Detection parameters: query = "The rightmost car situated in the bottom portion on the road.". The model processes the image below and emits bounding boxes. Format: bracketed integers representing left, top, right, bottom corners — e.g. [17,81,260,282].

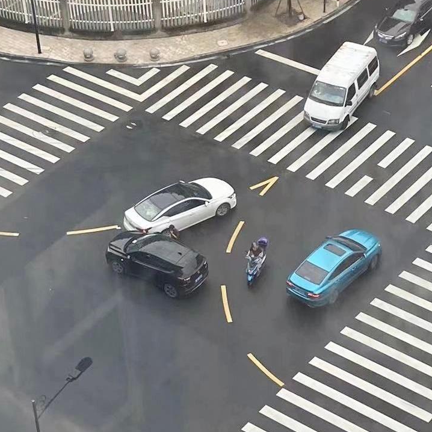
[282,230,385,311]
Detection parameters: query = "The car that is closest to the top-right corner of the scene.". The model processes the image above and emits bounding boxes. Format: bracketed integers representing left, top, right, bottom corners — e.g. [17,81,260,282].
[374,0,432,44]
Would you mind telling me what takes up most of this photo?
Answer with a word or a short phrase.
paved ground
